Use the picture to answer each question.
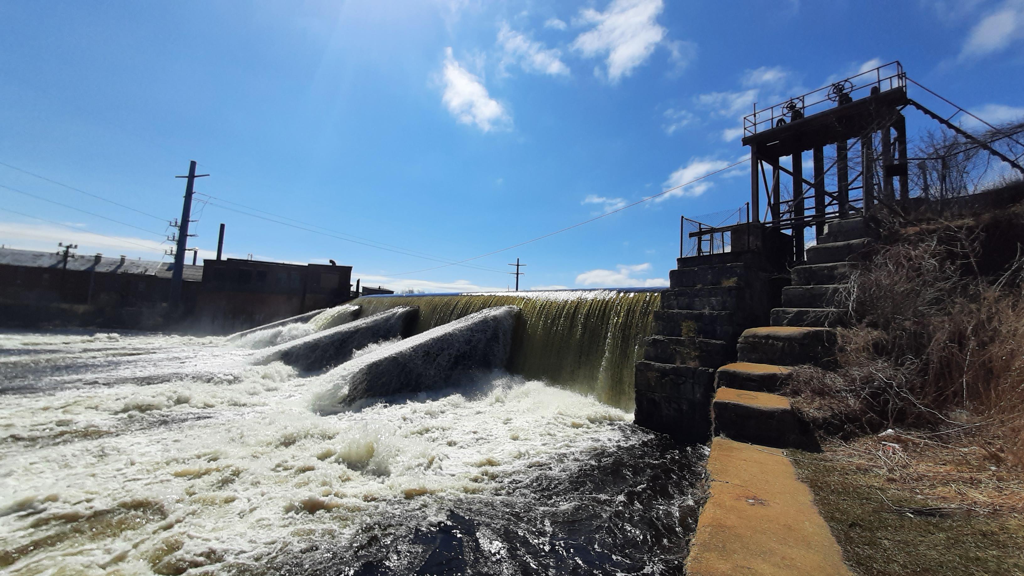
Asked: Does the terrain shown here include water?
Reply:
Yes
